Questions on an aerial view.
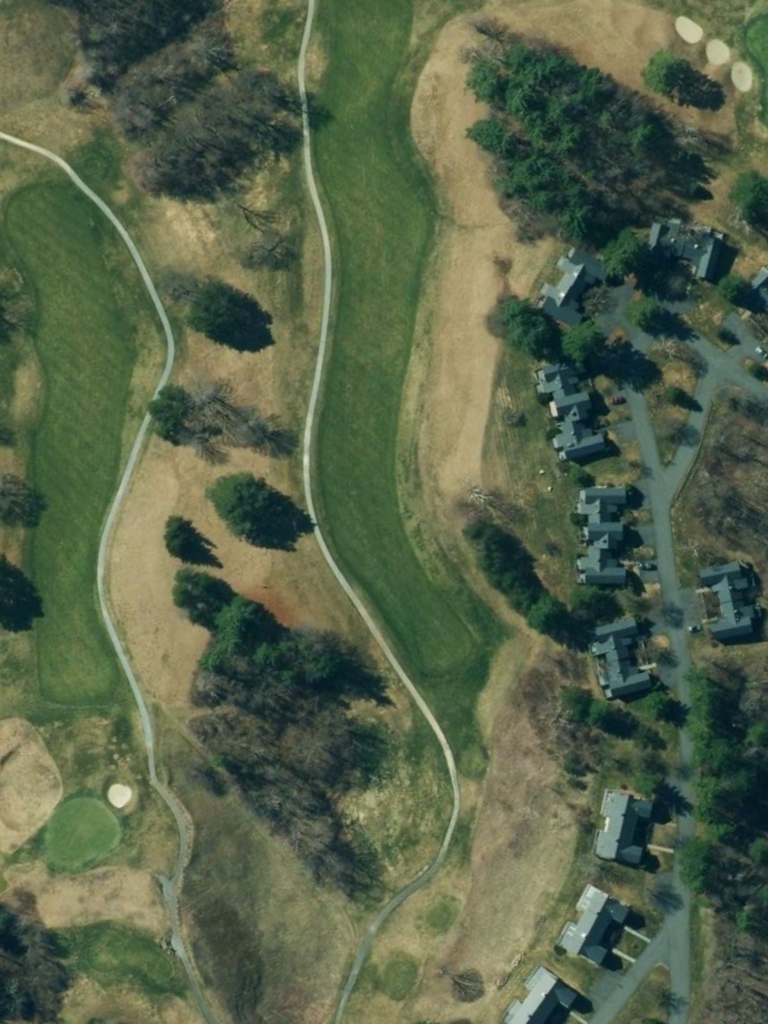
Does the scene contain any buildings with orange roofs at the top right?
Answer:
No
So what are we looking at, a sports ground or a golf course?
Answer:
golf course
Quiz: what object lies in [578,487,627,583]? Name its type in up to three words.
house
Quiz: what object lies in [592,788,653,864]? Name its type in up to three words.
house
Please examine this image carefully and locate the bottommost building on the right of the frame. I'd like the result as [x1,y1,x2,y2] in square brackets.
[502,966,577,1024]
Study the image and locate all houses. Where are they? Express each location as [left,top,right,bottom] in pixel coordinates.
[538,247,608,326]
[750,268,768,296]
[578,487,627,583]
[589,618,653,699]
[538,357,607,460]
[502,966,577,1024]
[648,217,724,278]
[700,561,761,642]
[557,885,630,966]
[592,788,653,864]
